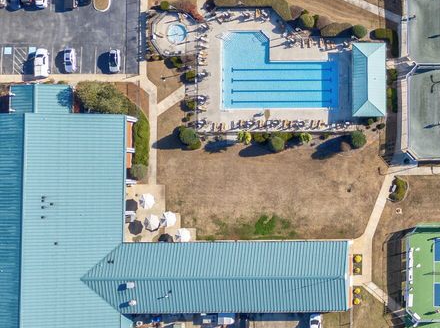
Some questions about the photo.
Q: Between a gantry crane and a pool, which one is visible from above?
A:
pool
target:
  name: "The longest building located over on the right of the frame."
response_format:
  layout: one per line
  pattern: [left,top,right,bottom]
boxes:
[352,43,386,117]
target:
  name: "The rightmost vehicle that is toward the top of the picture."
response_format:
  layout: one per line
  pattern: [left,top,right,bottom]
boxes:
[108,49,122,73]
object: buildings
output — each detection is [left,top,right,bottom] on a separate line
[0,83,355,328]
[352,43,386,117]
